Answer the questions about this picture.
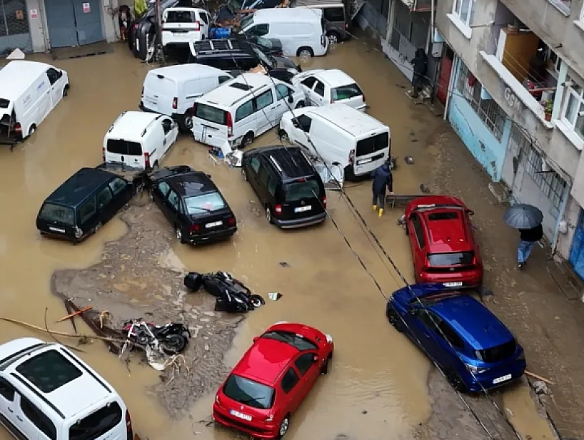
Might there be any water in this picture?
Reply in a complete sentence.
Yes, water can be seen from above here.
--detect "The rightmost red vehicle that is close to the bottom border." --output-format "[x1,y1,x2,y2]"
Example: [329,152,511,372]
[217,323,331,440]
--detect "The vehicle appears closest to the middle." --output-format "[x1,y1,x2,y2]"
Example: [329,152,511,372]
[243,144,330,226]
